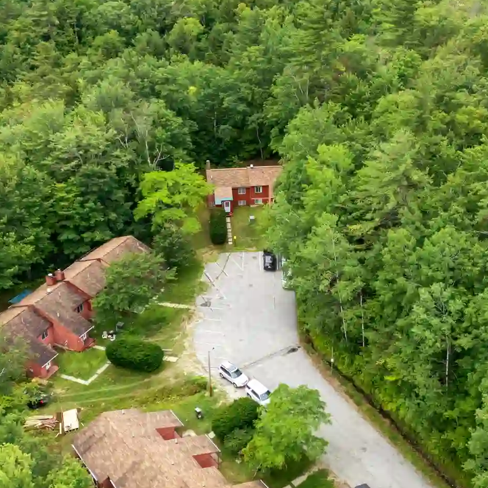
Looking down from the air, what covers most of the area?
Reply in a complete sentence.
The bulk of the photo consists of trees.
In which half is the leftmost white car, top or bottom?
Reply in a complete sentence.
The leftmost white car is in the bottom half of the image.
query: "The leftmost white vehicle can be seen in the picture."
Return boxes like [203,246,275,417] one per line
[217,360,247,387]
